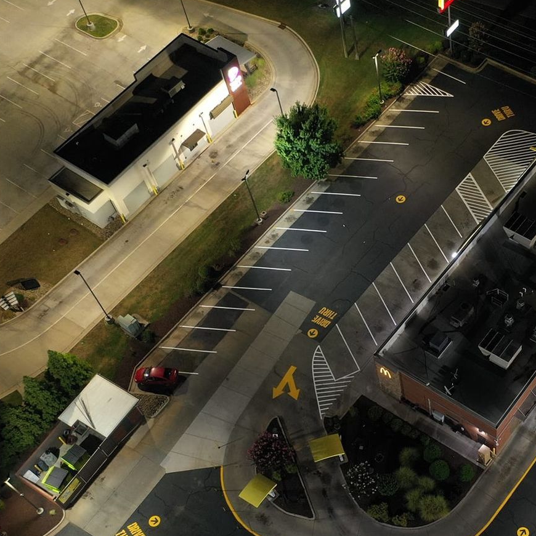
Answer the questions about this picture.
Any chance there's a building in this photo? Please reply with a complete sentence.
Yes, looking at the shot, I can spot a building.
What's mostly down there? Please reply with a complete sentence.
The bulk of the photo consists of paved ground.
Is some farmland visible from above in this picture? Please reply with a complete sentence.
No, there is no farmland in the image.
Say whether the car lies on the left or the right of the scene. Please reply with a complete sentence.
The car is on the left side of the image.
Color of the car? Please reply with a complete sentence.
In this view, the car is red.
